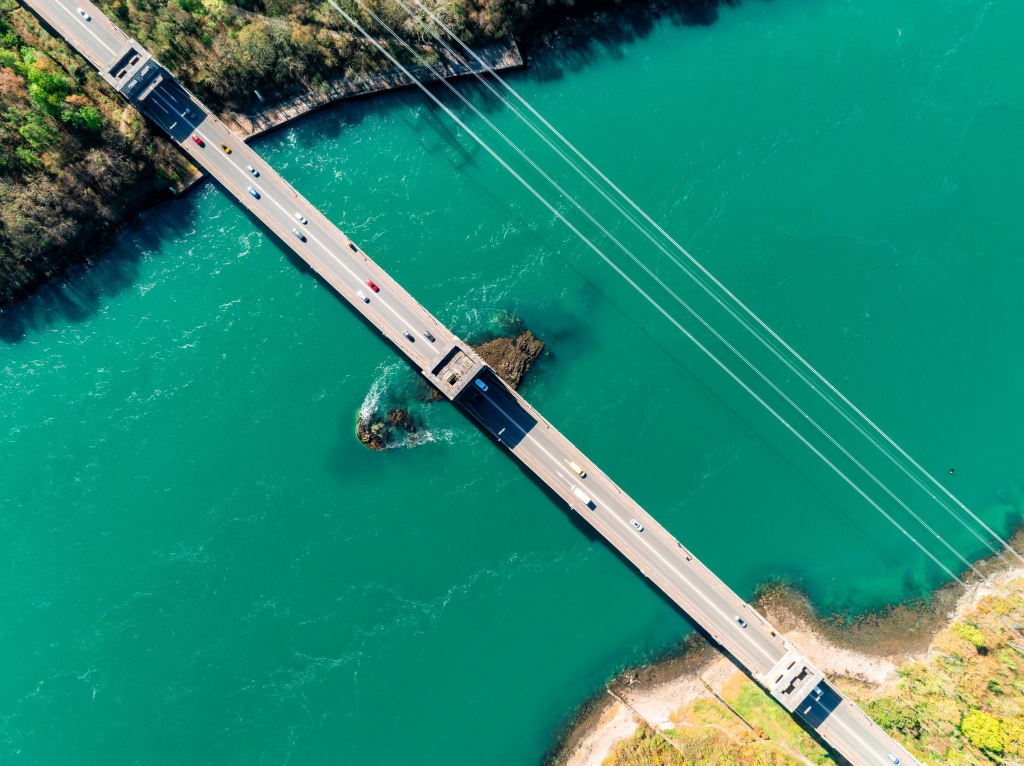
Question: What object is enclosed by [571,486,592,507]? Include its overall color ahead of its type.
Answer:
white truck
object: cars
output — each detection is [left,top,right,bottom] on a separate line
[630,519,643,531]
[474,378,488,391]
[357,290,370,302]
[184,107,197,120]
[246,164,259,177]
[402,329,415,341]
[812,687,822,697]
[247,186,260,198]
[78,8,91,21]
[472,392,485,404]
[219,141,232,154]
[734,616,747,628]
[887,753,900,765]
[294,211,307,223]
[192,134,204,146]
[292,228,306,241]
[422,329,435,341]
[366,279,379,291]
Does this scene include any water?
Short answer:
Yes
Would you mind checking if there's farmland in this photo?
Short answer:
No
